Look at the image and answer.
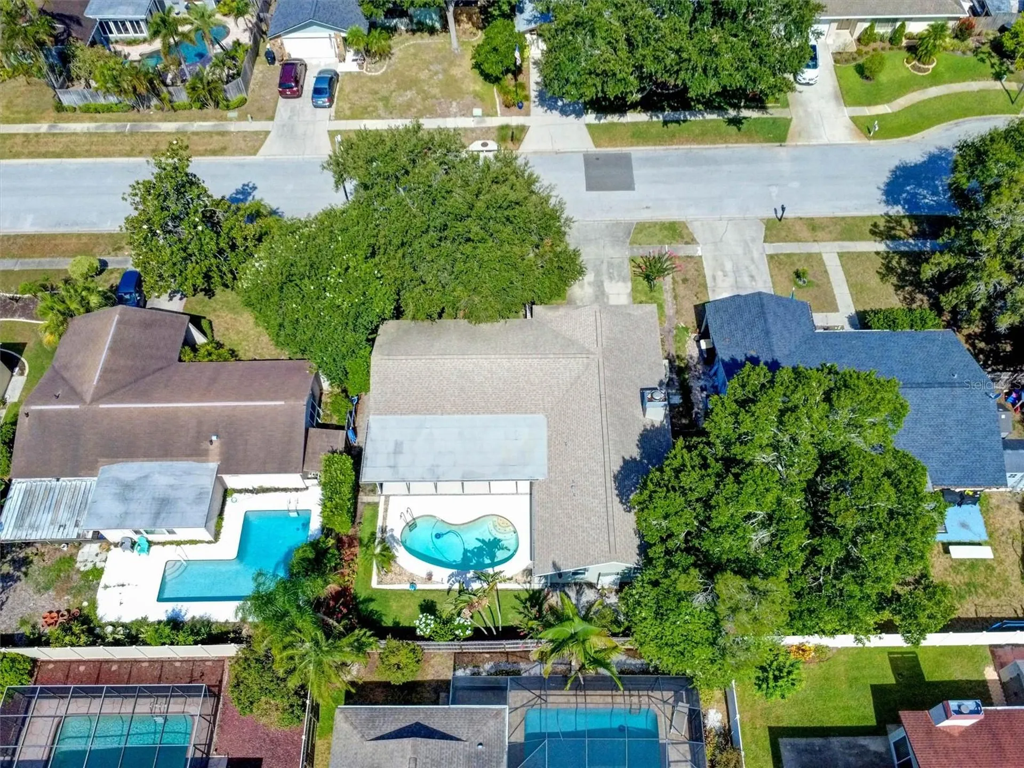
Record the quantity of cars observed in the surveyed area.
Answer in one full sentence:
Altogether the scene contains 4 cars.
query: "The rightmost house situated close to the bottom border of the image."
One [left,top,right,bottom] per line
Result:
[894,699,1024,768]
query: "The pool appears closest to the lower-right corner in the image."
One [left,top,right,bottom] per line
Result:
[518,695,667,768]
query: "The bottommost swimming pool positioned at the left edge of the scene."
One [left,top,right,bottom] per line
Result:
[44,701,197,768]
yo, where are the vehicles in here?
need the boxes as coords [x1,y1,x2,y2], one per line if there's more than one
[311,71,339,105]
[789,42,819,81]
[278,61,307,95]
[115,247,152,302]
